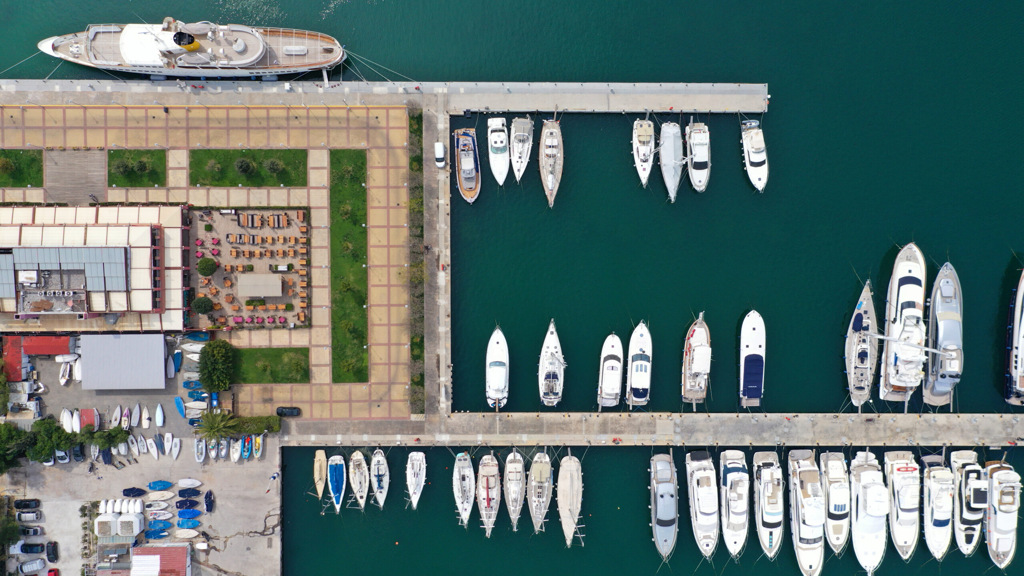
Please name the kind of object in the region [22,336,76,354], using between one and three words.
shed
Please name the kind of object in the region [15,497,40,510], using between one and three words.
vehicle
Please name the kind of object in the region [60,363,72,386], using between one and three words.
boat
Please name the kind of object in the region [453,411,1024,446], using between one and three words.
pier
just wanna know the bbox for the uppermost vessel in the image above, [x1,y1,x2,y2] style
[1,11,418,87]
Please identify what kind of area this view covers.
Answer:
port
